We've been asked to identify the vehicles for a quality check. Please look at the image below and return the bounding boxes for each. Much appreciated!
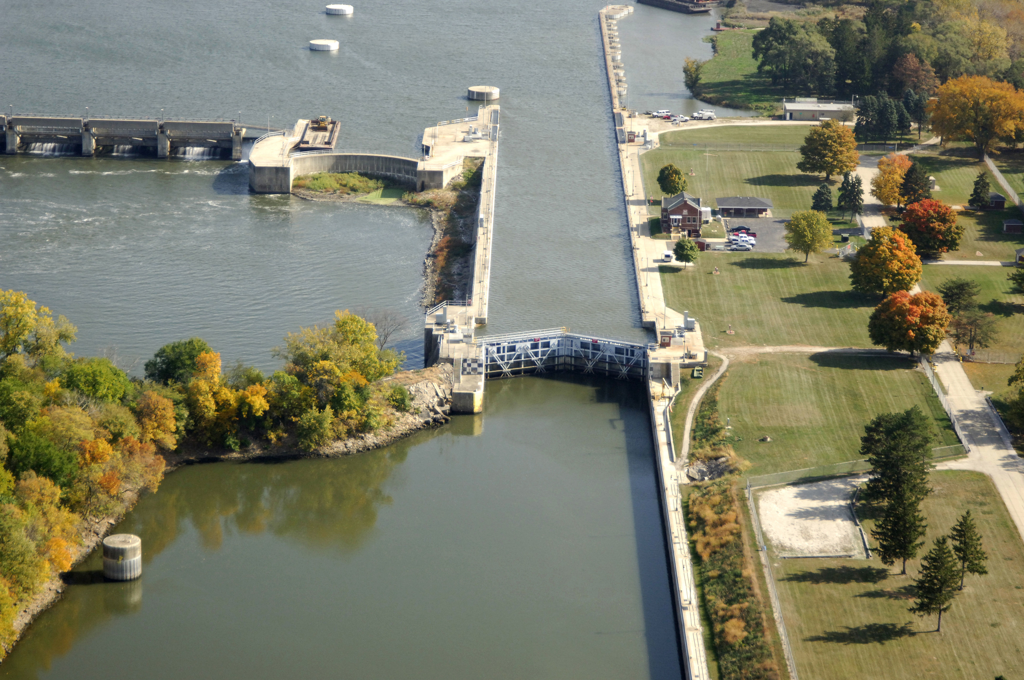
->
[660,112,677,120]
[730,225,751,231]
[652,110,670,118]
[690,109,719,121]
[731,243,752,251]
[670,114,690,122]
[730,232,754,241]
[732,237,756,247]
[315,113,327,129]
[733,228,757,237]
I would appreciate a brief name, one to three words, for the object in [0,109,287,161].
dam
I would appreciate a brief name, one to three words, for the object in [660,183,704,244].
house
